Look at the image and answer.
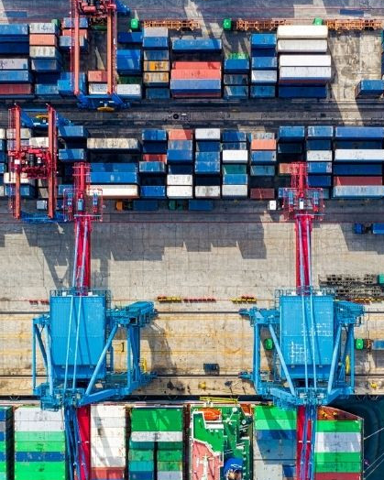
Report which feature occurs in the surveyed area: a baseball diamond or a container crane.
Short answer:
container crane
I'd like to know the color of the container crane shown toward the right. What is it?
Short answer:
blue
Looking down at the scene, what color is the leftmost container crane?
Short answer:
red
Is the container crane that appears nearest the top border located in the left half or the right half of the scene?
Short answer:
left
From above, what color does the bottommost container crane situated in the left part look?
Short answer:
blue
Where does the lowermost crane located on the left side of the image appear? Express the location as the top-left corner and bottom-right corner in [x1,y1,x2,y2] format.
[28,162,160,480]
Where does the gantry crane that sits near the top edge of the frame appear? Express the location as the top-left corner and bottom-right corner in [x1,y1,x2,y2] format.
[70,0,129,110]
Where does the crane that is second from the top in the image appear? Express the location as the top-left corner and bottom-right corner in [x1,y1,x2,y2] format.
[11,102,75,220]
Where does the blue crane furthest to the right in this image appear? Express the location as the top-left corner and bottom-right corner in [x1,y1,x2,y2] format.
[236,162,368,480]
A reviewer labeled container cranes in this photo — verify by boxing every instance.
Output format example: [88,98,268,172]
[28,162,160,480]
[70,0,129,110]
[11,102,75,220]
[236,162,368,480]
